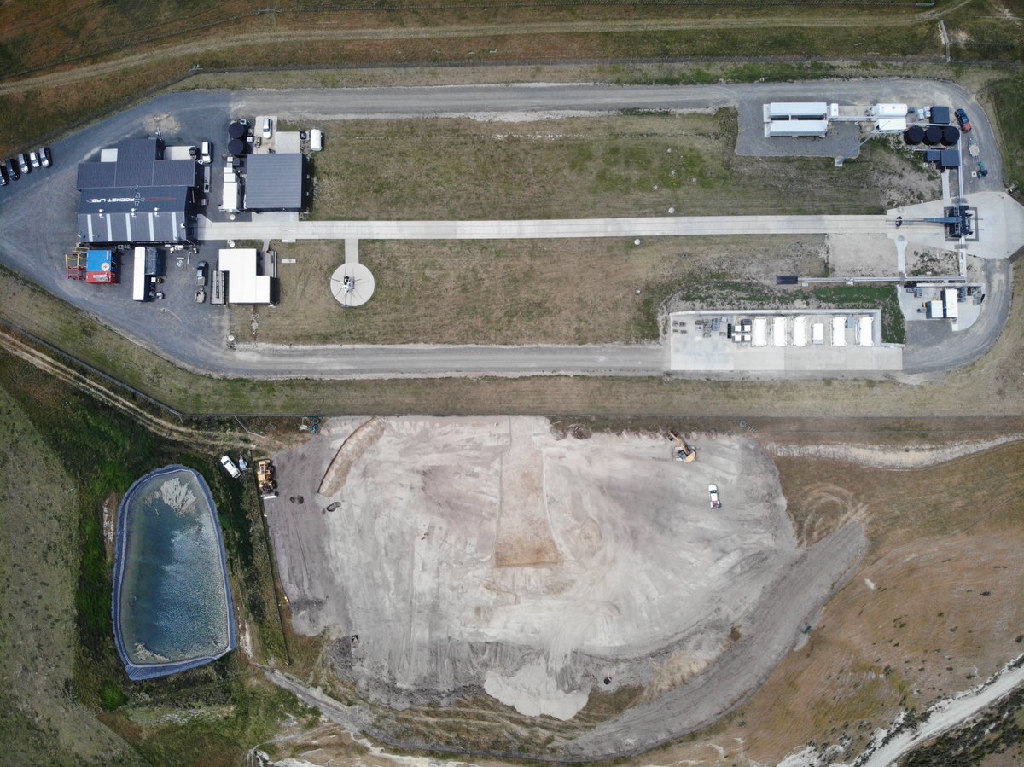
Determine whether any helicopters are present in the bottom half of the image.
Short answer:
No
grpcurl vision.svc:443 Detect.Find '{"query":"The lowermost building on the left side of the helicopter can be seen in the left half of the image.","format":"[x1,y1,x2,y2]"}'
[219,249,274,306]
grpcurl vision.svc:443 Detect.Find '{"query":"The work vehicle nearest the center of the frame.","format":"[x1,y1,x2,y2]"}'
[666,429,696,463]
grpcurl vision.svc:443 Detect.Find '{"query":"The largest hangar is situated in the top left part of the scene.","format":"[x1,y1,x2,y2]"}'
[76,137,202,247]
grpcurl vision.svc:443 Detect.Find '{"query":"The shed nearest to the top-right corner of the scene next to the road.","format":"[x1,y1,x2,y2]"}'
[925,106,949,127]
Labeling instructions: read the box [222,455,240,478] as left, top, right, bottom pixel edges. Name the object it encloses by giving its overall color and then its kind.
white vehicle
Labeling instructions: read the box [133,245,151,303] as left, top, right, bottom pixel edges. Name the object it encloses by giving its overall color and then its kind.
white trailer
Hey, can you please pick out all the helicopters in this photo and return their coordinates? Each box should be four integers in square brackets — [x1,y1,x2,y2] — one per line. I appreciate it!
[328,267,362,307]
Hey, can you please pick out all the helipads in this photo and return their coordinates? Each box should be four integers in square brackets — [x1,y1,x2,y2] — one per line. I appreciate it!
[330,239,375,307]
